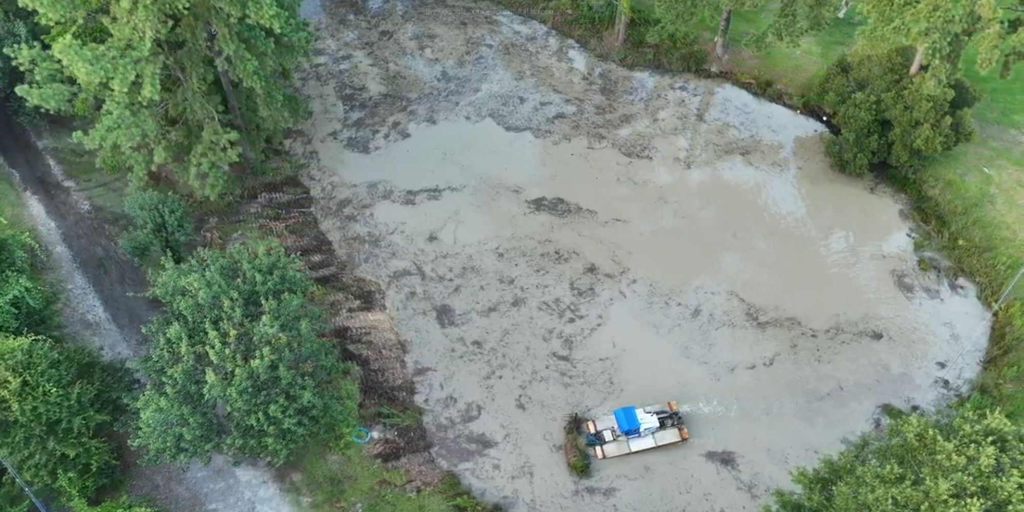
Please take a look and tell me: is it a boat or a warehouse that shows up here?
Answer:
boat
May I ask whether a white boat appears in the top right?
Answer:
No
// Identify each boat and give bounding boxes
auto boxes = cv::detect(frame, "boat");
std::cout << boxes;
[560,403,688,470]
